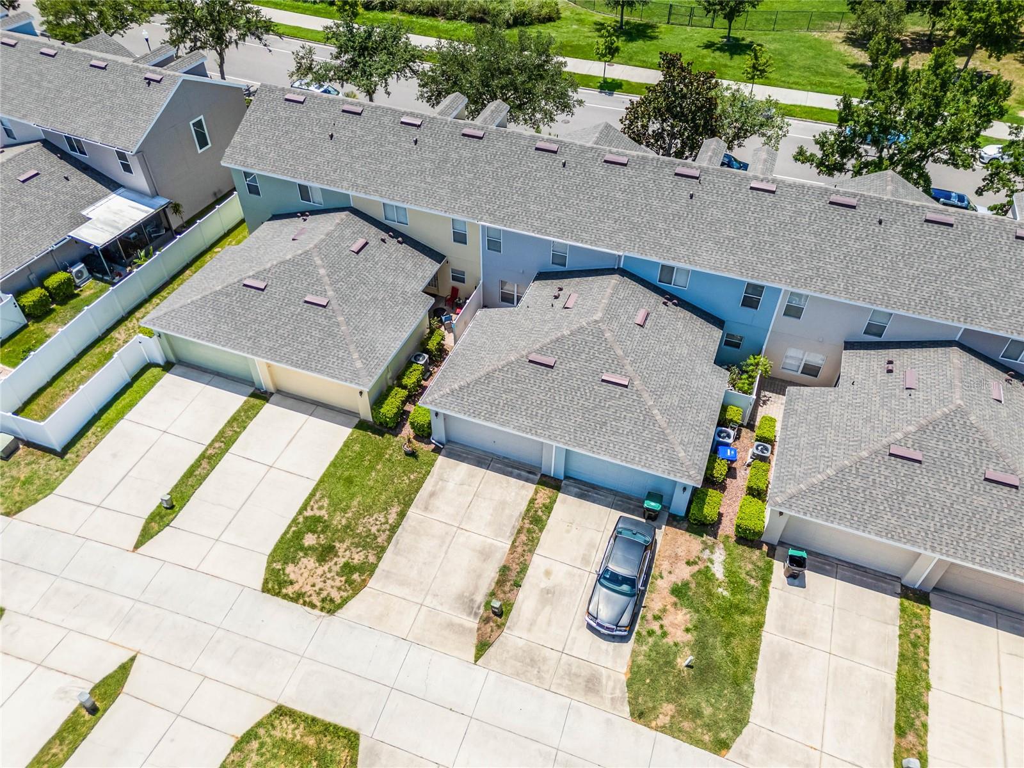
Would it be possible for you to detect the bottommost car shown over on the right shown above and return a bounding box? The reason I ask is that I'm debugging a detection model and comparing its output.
[586,512,662,641]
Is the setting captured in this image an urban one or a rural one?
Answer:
urban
